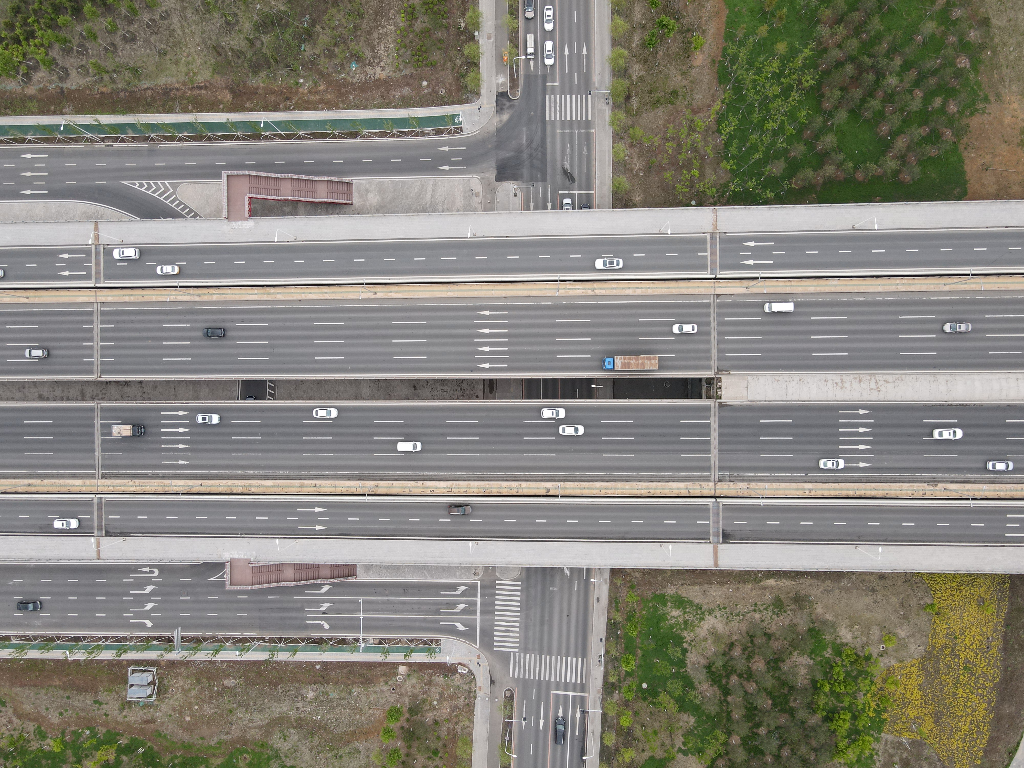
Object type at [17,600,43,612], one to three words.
vehicle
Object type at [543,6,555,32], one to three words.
vehicle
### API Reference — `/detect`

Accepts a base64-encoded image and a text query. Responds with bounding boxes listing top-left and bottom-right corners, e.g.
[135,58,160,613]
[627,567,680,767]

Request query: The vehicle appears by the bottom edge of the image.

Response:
[554,717,567,745]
